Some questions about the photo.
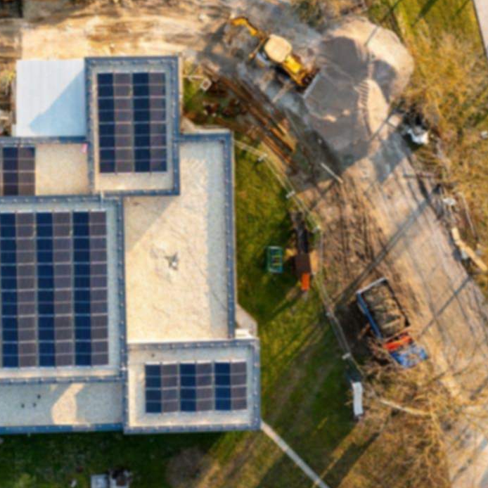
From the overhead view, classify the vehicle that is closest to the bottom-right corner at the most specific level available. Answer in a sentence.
What you see as the vehicle that is closest to the bottom-right corner is a truck.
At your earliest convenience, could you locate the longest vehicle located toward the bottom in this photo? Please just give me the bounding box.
[355,274,429,364]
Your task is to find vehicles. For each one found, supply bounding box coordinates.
[217,25,312,102]
[355,274,429,364]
